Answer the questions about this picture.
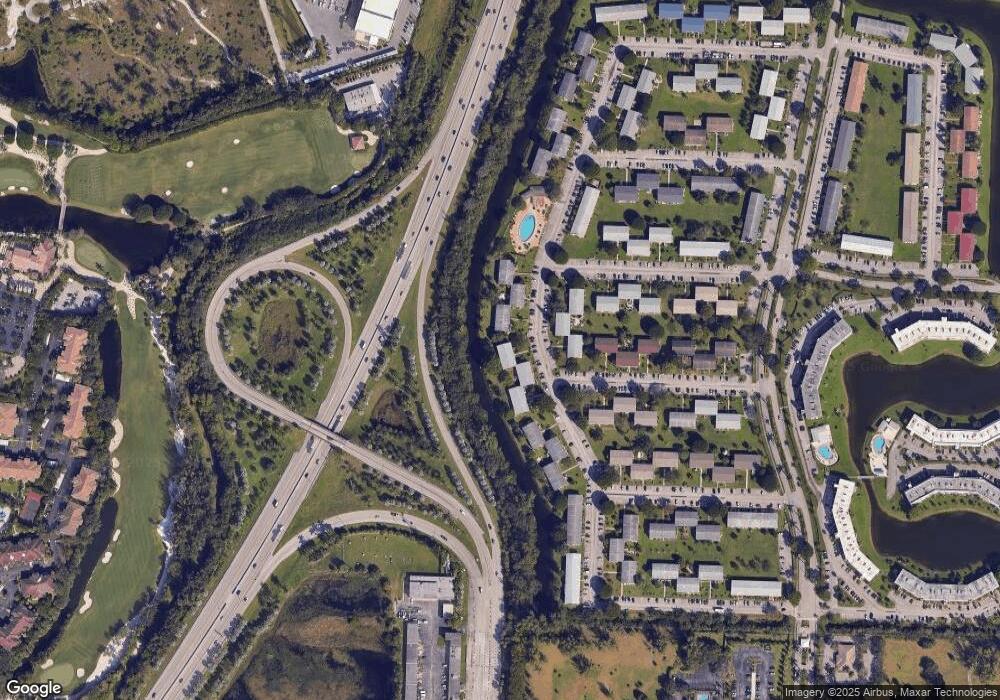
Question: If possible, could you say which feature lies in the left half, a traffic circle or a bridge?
bridge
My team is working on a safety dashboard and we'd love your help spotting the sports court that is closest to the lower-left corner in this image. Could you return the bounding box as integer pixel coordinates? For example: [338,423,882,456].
[20,491,41,522]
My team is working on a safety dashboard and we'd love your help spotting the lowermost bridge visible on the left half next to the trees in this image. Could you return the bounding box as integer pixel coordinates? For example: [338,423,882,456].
[275,404,378,465]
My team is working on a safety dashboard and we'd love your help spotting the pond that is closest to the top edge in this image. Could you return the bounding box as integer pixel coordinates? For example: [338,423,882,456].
[0,49,52,105]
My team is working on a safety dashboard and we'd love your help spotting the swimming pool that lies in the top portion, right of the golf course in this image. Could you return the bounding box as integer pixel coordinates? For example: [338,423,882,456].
[510,198,551,252]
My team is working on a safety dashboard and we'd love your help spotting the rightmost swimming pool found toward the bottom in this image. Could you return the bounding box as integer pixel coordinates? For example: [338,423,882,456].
[869,429,891,469]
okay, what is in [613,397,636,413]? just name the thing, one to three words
building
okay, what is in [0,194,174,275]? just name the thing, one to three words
pond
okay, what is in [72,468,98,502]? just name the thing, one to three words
house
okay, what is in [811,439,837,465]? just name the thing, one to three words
swimming pool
